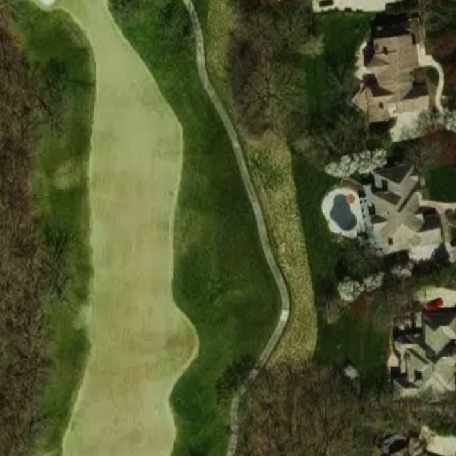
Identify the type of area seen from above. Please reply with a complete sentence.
What you see here is a golf course.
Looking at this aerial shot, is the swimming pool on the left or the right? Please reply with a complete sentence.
The swimming pool sits on the right side.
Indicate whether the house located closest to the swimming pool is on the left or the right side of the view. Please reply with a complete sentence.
The house located closest to the swimming pool sits on the right side.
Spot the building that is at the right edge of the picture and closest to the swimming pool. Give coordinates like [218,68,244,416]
[368,157,456,275]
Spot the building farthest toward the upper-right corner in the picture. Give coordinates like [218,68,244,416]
[353,16,432,121]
